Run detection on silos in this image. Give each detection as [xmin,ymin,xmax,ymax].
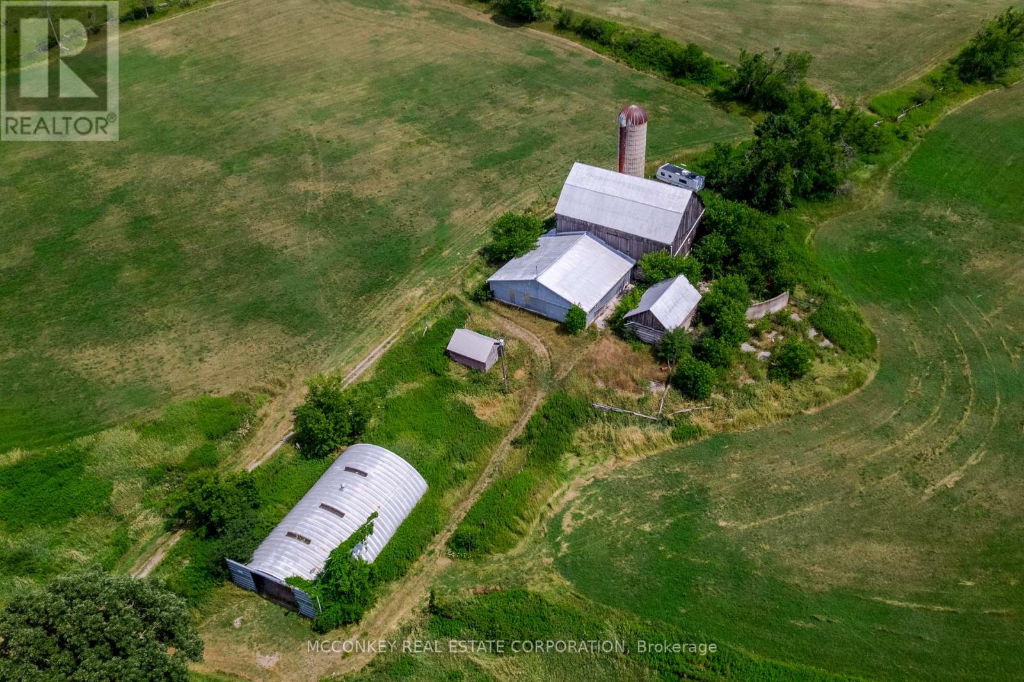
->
[616,105,648,178]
